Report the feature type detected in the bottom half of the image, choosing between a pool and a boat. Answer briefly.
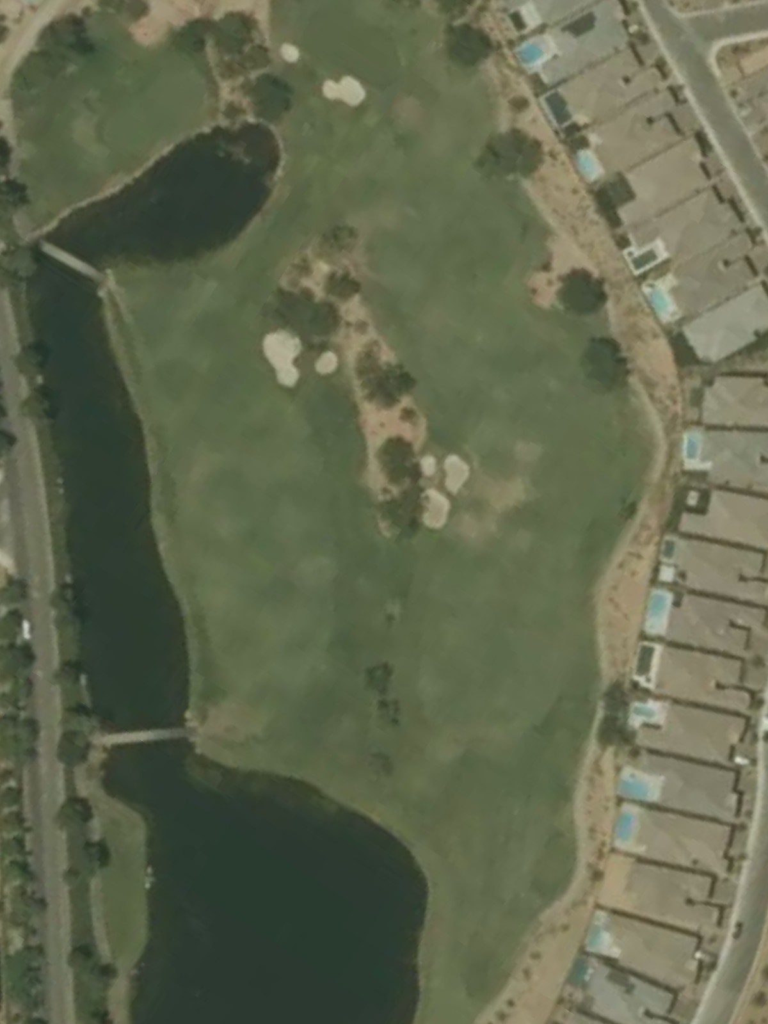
pool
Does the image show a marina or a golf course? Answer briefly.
golf course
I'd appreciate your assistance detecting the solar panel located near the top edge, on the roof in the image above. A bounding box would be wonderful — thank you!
[563,13,597,39]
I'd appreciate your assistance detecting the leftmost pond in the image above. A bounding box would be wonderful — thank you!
[26,119,429,1024]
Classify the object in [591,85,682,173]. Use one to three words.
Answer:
house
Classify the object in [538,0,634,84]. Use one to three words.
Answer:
house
